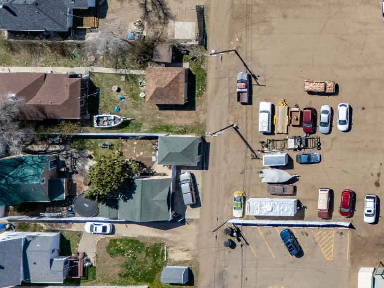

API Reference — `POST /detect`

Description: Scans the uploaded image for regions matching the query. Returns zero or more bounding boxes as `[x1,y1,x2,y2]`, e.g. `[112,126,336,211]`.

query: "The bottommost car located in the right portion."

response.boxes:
[279,227,303,257]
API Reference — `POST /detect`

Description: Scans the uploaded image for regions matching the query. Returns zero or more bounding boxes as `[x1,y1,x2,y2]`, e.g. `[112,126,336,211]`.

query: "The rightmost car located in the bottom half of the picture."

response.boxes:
[364,193,378,222]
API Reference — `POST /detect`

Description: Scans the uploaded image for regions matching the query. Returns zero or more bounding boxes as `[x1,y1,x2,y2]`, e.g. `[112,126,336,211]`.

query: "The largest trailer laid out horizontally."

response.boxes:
[247,194,310,215]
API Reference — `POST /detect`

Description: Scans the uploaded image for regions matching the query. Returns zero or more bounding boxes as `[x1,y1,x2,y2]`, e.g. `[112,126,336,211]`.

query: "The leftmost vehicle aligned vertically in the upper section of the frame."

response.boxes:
[234,72,250,104]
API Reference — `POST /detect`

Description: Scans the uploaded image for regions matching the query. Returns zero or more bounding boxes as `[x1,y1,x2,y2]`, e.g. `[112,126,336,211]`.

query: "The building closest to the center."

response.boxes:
[158,135,204,166]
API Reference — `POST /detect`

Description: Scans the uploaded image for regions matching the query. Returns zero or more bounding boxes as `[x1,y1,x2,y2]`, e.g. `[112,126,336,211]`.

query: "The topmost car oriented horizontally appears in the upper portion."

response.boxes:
[305,80,335,93]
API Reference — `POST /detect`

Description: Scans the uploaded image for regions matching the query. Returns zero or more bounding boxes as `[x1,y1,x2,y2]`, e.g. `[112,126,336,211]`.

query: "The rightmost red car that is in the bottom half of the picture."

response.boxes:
[342,188,355,217]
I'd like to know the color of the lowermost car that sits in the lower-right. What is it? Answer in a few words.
blue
